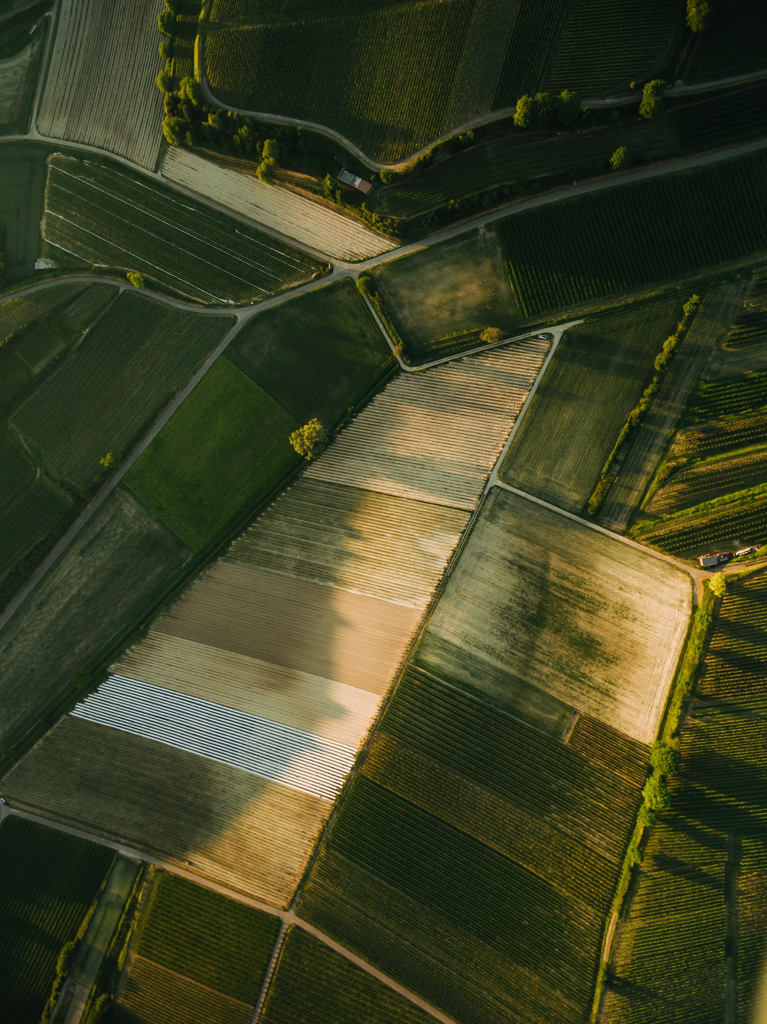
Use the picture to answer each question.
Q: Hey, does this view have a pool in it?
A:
No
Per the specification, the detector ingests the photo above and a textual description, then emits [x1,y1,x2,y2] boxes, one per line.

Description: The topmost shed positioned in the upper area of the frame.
[338,167,374,197]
